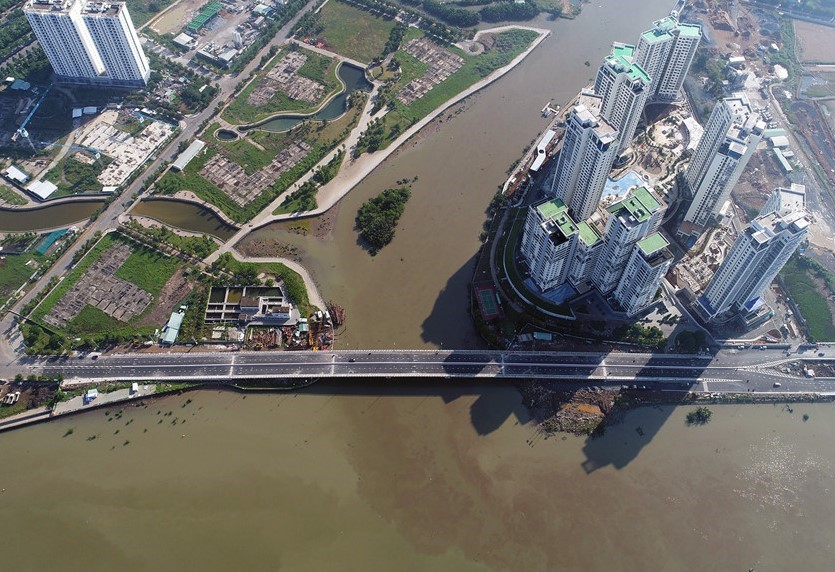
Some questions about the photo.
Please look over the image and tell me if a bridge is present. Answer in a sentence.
Yes, the frame does contain a bridge.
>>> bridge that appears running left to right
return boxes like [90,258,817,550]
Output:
[20,350,705,382]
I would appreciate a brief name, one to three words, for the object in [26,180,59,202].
shed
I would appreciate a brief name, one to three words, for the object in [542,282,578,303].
swimming pool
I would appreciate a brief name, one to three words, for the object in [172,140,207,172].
shed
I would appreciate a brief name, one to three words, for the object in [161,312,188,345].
building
